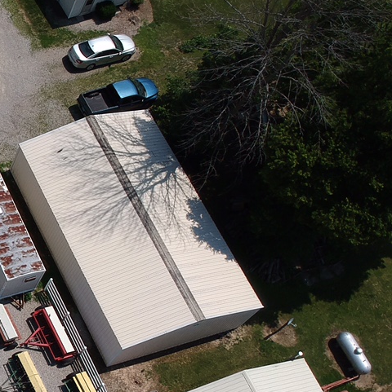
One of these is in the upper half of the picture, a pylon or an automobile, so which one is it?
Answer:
automobile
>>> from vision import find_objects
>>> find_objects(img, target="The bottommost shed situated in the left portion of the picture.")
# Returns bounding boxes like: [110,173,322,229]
[13,106,264,365]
